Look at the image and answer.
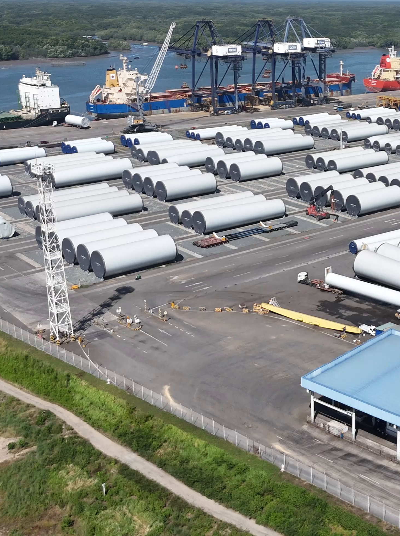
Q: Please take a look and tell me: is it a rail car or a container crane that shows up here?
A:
container crane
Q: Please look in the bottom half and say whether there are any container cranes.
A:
No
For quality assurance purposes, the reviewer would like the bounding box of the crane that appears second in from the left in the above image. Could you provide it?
[155,15,252,115]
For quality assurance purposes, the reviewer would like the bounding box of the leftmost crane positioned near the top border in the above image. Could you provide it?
[123,22,174,131]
